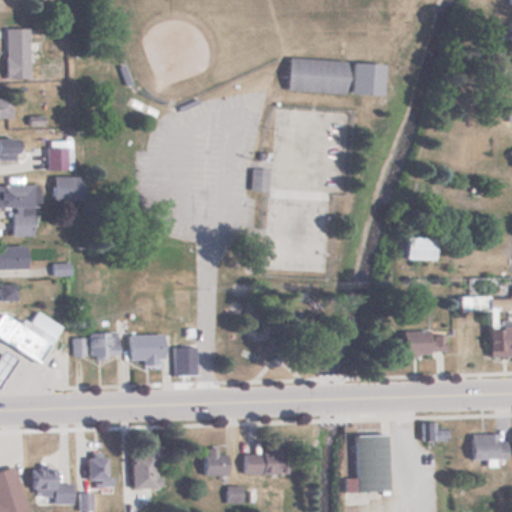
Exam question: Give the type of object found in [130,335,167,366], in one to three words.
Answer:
house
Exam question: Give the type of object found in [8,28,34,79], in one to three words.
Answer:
house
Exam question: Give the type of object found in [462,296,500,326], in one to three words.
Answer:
building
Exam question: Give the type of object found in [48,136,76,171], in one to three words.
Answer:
building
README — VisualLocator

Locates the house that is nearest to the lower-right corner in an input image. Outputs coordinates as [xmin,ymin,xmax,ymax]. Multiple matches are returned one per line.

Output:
[472,432,511,469]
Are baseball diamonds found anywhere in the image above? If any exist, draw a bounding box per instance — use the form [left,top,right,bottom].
[143,20,210,95]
